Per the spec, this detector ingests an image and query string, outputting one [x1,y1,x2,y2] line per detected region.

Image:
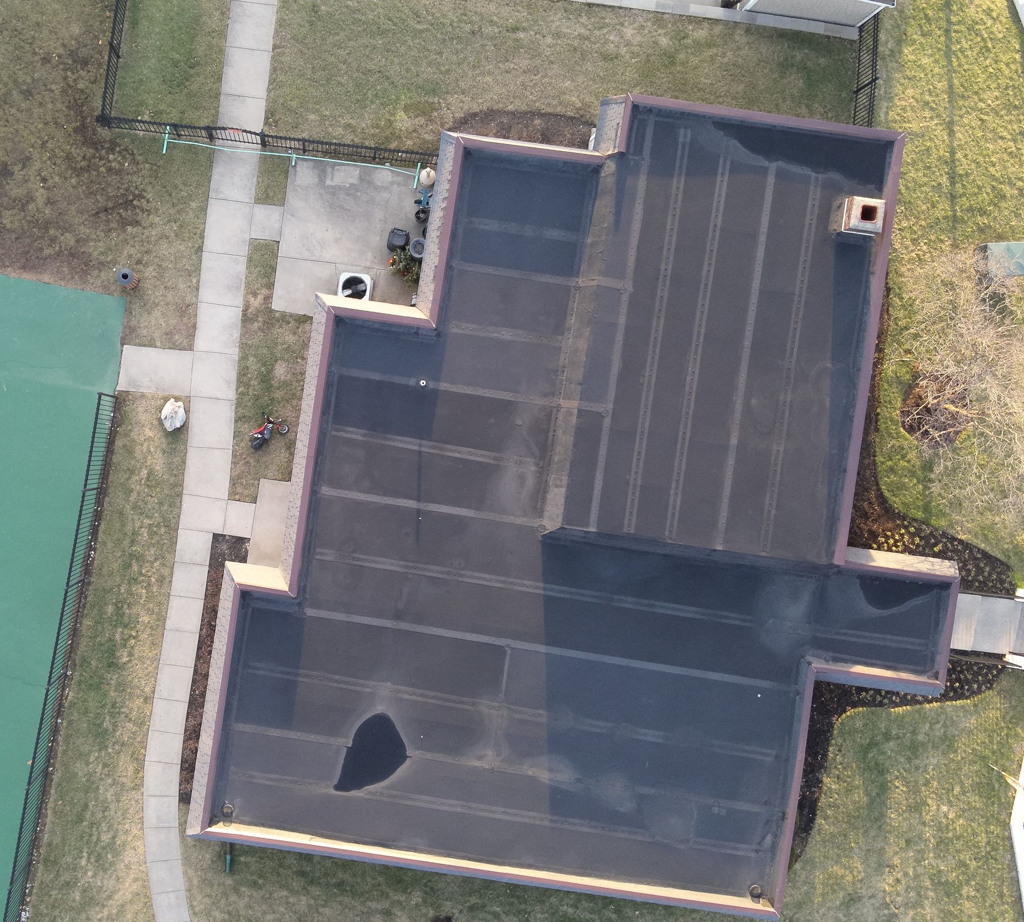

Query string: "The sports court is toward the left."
[0,274,126,922]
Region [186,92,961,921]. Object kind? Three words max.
building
